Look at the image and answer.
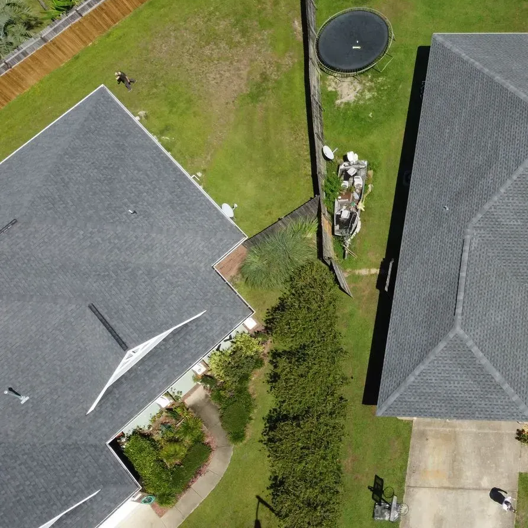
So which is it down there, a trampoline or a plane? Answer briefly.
trampoline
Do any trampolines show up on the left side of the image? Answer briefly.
No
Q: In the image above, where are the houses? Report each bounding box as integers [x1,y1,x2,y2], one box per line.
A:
[0,85,270,528]
[376,32,528,424]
